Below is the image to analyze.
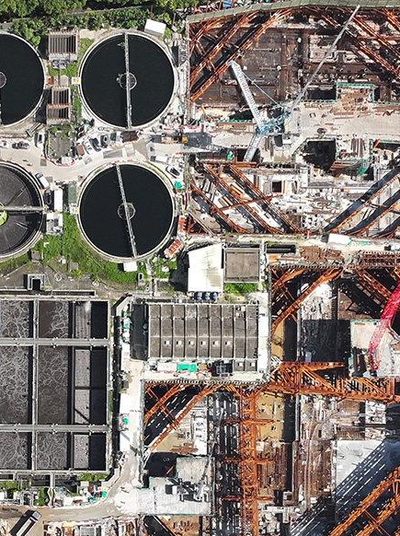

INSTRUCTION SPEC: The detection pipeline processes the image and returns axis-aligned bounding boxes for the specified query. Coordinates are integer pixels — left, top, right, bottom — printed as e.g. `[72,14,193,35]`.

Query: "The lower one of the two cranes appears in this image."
[363,277,400,383]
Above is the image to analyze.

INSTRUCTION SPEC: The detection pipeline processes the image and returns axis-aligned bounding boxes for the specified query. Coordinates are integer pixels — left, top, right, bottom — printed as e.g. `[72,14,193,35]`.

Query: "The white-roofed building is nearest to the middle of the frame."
[188,244,224,297]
